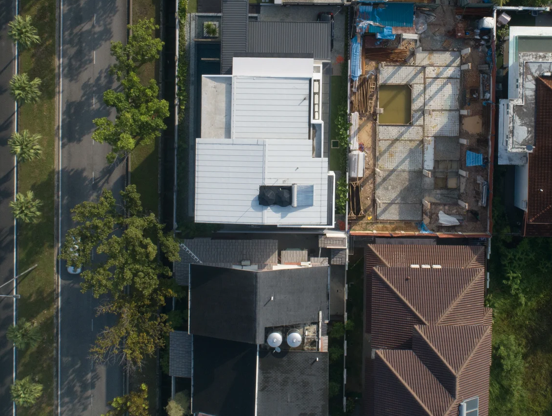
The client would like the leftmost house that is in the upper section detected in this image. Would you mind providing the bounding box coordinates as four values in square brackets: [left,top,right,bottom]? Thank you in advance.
[196,0,335,227]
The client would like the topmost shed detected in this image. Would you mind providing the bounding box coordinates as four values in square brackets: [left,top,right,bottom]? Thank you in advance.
[357,0,415,33]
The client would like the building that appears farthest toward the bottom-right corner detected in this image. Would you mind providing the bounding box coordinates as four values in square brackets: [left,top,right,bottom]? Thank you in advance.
[364,239,494,416]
